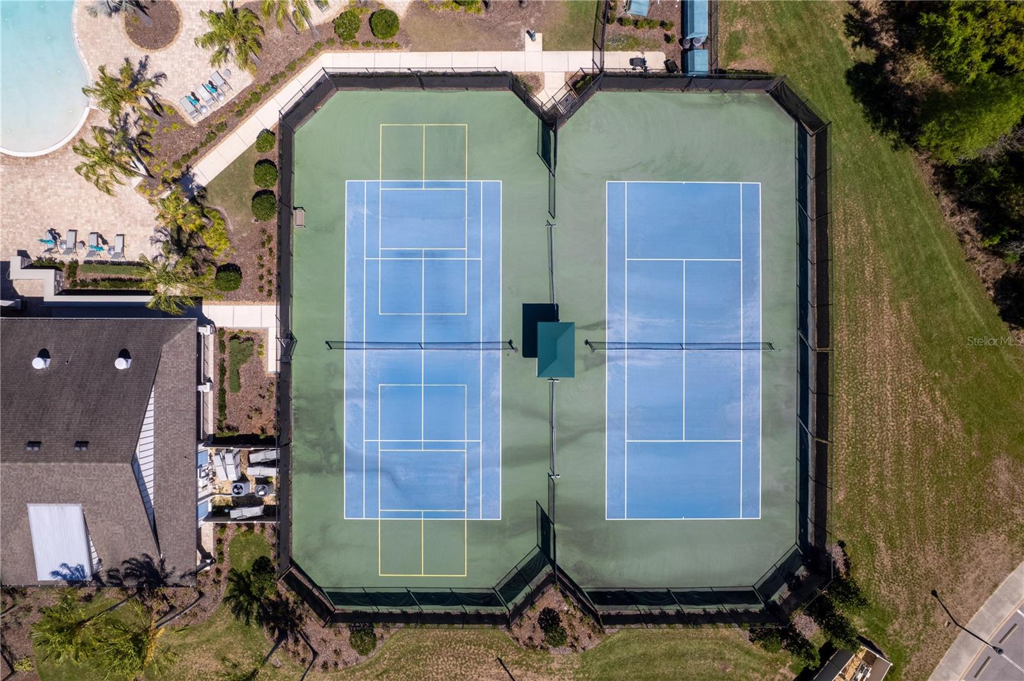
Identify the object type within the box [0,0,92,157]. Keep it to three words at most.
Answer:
swimming pool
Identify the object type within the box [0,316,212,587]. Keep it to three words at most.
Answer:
building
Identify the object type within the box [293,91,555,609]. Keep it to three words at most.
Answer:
tennis court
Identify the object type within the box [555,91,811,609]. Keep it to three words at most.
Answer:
tennis court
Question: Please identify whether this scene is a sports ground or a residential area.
sports ground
